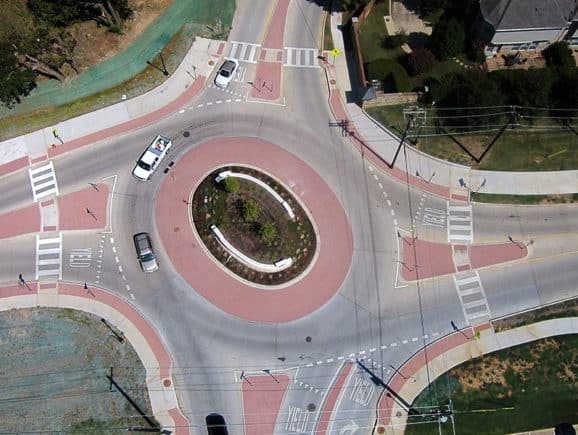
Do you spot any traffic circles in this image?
Yes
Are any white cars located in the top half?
Yes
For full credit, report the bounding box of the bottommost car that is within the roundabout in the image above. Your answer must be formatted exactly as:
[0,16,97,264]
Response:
[131,230,161,274]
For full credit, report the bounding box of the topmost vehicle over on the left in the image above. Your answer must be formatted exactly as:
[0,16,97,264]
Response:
[213,56,240,90]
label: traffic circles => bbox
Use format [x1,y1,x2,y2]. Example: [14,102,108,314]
[107,98,402,376]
